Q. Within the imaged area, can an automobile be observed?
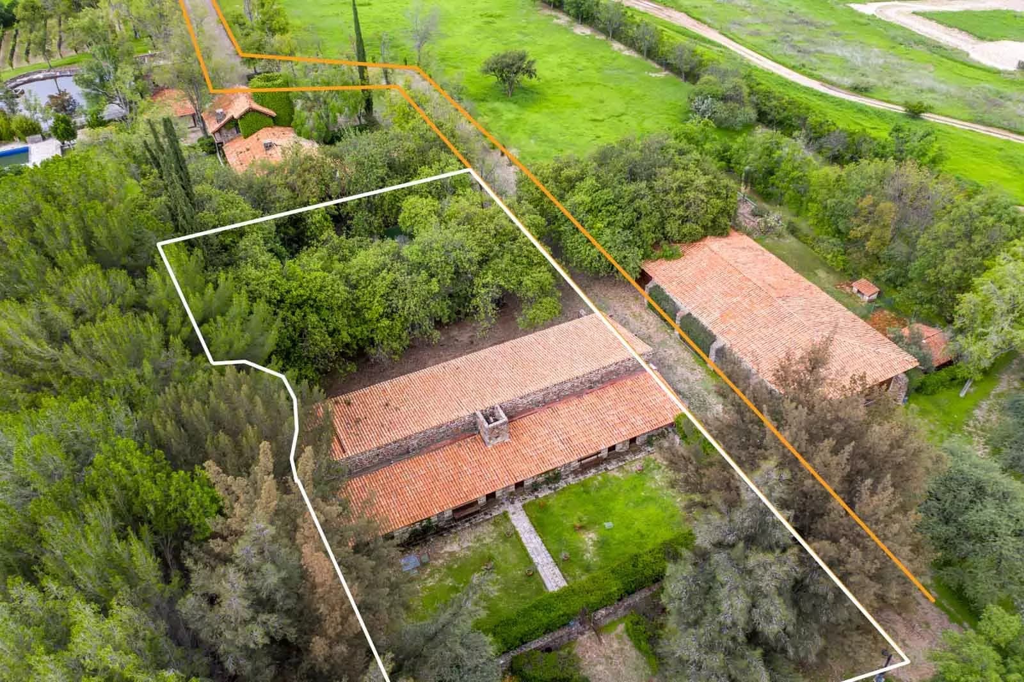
No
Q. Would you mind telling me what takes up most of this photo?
trees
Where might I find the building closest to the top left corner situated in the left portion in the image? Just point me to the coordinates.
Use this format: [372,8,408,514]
[15,131,49,145]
